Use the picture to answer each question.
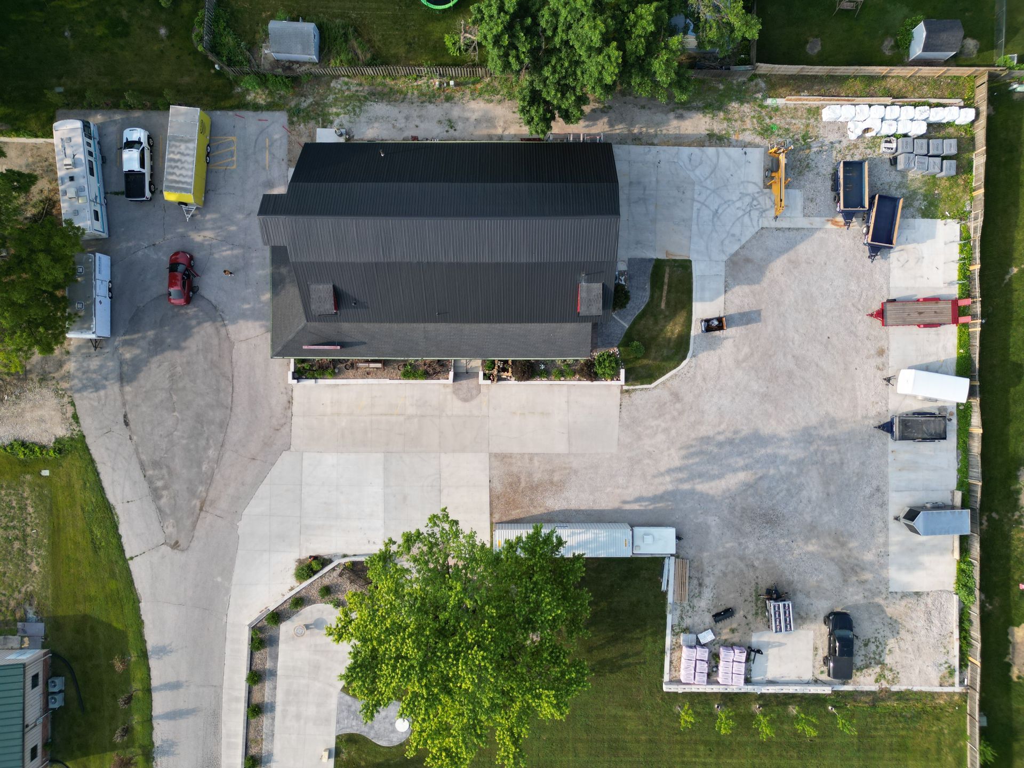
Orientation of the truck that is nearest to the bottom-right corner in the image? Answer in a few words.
from top to bottom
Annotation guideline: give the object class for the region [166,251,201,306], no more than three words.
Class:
car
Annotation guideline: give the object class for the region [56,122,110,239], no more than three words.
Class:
camper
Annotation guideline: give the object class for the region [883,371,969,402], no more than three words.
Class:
trailer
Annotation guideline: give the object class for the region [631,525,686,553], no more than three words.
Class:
vehicle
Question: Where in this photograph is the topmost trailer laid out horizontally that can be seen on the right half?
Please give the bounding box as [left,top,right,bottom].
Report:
[866,299,972,328]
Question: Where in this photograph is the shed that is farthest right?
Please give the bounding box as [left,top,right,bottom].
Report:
[911,18,966,61]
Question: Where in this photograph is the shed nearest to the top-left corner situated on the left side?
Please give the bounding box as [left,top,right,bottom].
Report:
[265,11,318,60]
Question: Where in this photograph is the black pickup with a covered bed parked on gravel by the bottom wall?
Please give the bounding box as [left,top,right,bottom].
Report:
[822,610,855,682]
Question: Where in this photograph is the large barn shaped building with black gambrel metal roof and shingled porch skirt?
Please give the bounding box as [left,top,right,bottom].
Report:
[256,143,621,358]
